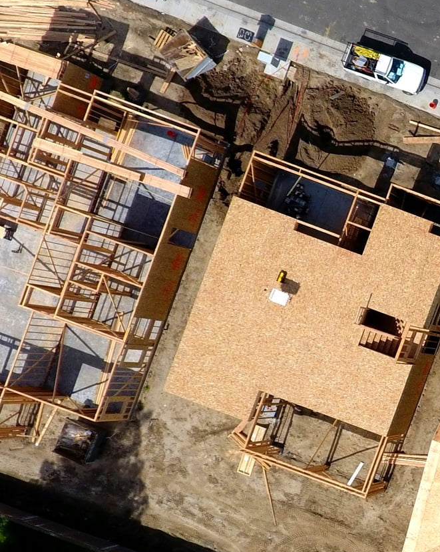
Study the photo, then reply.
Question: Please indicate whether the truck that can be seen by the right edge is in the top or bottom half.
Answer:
top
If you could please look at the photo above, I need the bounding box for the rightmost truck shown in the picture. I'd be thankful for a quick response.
[332,36,430,98]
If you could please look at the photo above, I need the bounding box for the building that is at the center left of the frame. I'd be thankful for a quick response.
[0,24,230,446]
